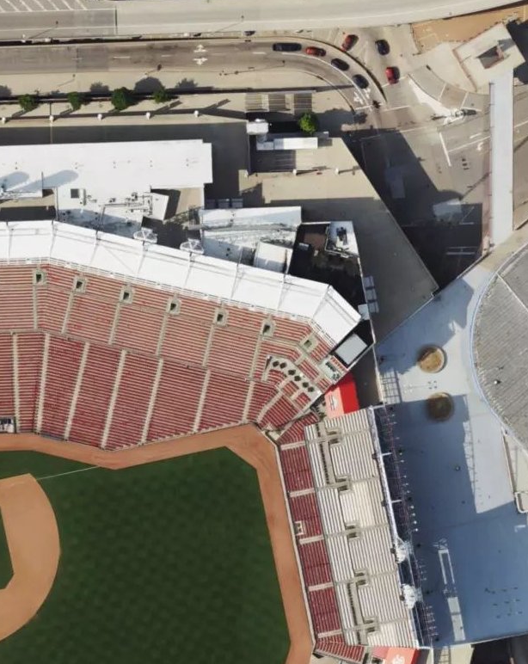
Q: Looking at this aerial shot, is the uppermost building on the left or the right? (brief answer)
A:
right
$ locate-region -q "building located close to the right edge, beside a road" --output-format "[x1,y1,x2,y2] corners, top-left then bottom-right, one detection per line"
[453,22,528,92]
